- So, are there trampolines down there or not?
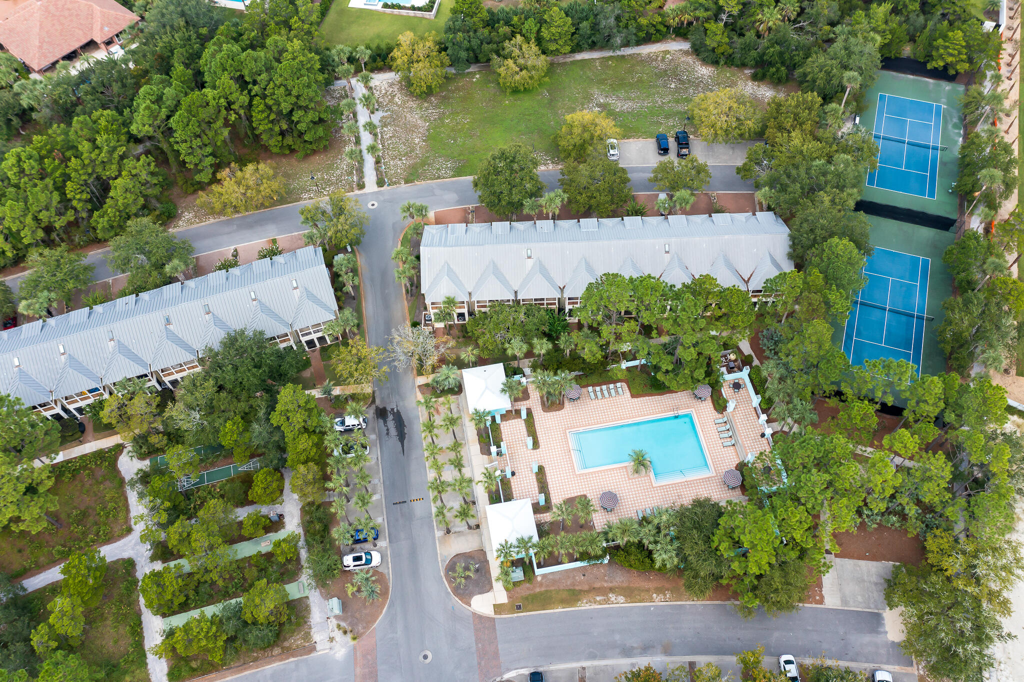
No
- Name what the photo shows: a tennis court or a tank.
tennis court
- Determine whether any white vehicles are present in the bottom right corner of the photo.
Yes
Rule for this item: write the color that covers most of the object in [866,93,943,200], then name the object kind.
blue tennis court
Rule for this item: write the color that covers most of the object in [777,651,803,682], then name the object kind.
white car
